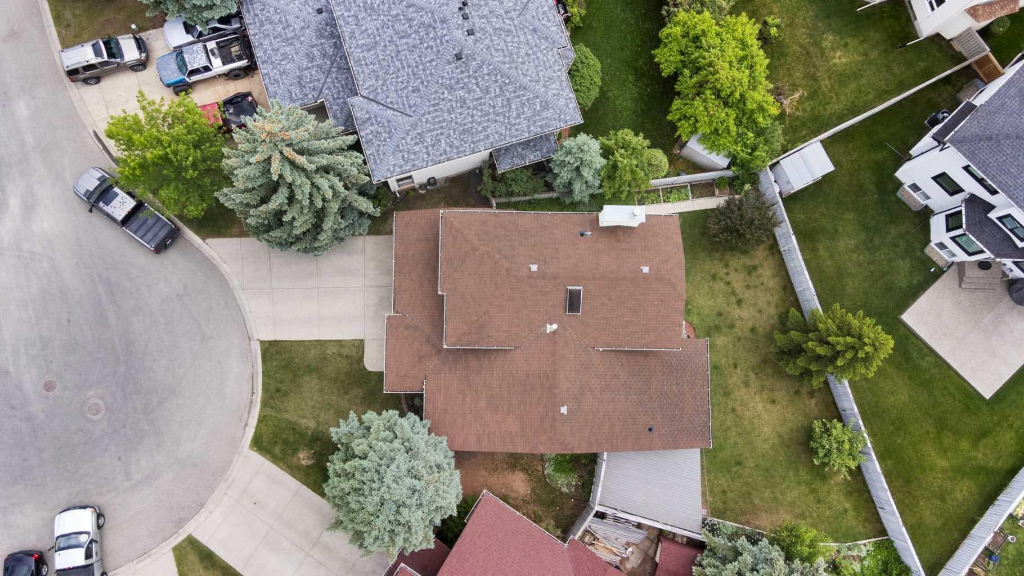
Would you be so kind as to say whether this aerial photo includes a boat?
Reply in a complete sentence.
No, I find no boat anywhere in the image.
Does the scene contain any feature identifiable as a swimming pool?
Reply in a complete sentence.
No, there's no swimming pool here.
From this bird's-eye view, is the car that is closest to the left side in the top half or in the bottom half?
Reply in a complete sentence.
It is in the bottom half that the car that is closest to the left side appears.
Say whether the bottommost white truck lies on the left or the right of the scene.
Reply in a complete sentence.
The bottommost white truck appears in the left half of the scene.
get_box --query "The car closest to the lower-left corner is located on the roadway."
[3,544,52,576]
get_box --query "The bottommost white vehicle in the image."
[49,500,109,576]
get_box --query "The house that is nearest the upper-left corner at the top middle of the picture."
[240,0,584,206]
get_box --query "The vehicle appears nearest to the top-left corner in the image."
[55,35,154,89]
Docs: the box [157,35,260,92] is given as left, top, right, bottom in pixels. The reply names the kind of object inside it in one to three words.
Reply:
truck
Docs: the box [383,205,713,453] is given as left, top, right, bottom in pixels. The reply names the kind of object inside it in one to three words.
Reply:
house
